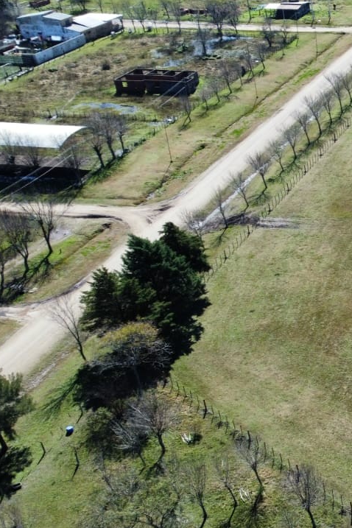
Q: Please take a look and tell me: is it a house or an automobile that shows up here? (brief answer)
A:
house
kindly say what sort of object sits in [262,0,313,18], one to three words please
shed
